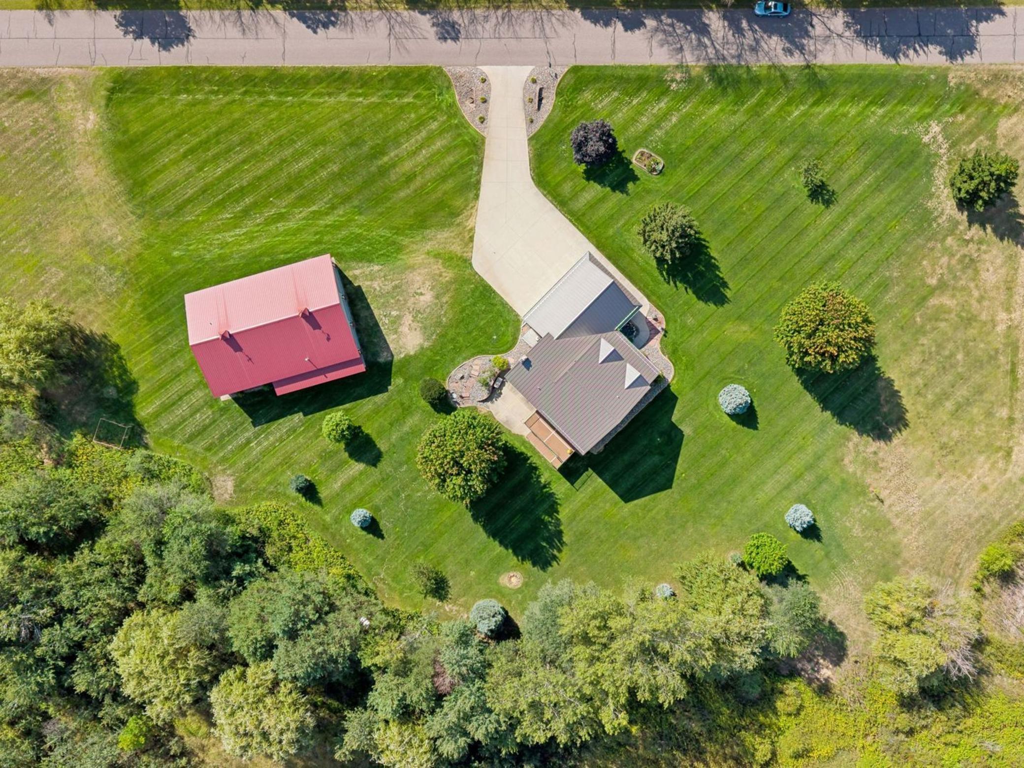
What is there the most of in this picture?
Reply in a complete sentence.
For the most part, this view shows grass.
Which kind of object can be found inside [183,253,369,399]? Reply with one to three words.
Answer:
barn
